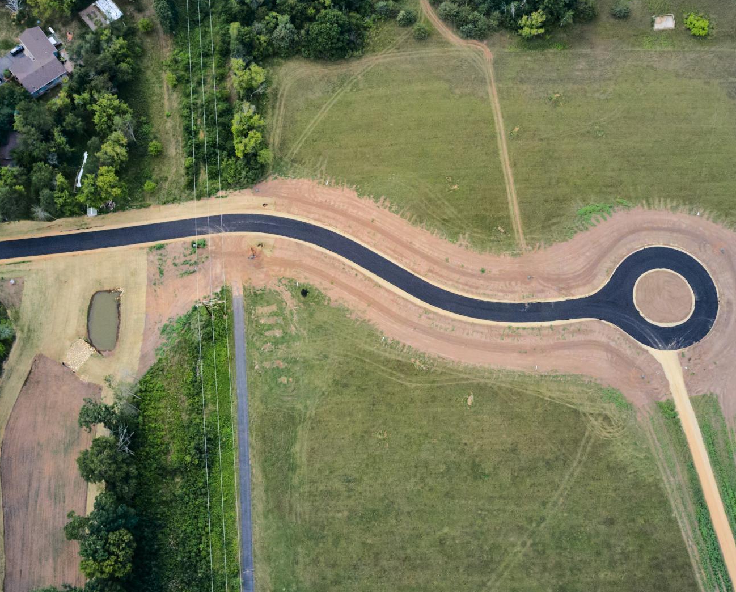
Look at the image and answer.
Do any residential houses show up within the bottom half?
No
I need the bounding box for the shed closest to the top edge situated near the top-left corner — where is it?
[96,0,126,25]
